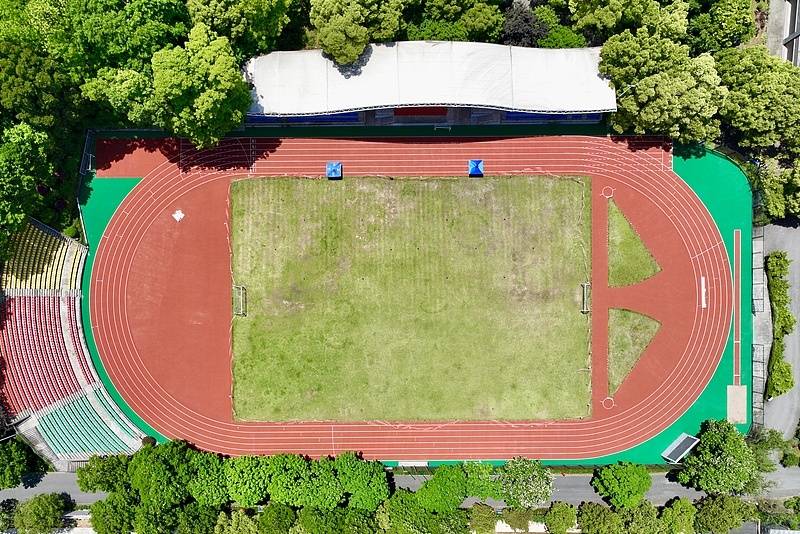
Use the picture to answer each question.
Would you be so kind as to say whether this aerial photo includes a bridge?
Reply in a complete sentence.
No, I can see no bridge in this picture.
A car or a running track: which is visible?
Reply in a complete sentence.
Visible in the photo is a running track.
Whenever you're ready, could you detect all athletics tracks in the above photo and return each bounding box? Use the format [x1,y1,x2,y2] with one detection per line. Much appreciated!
[80,123,752,466]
